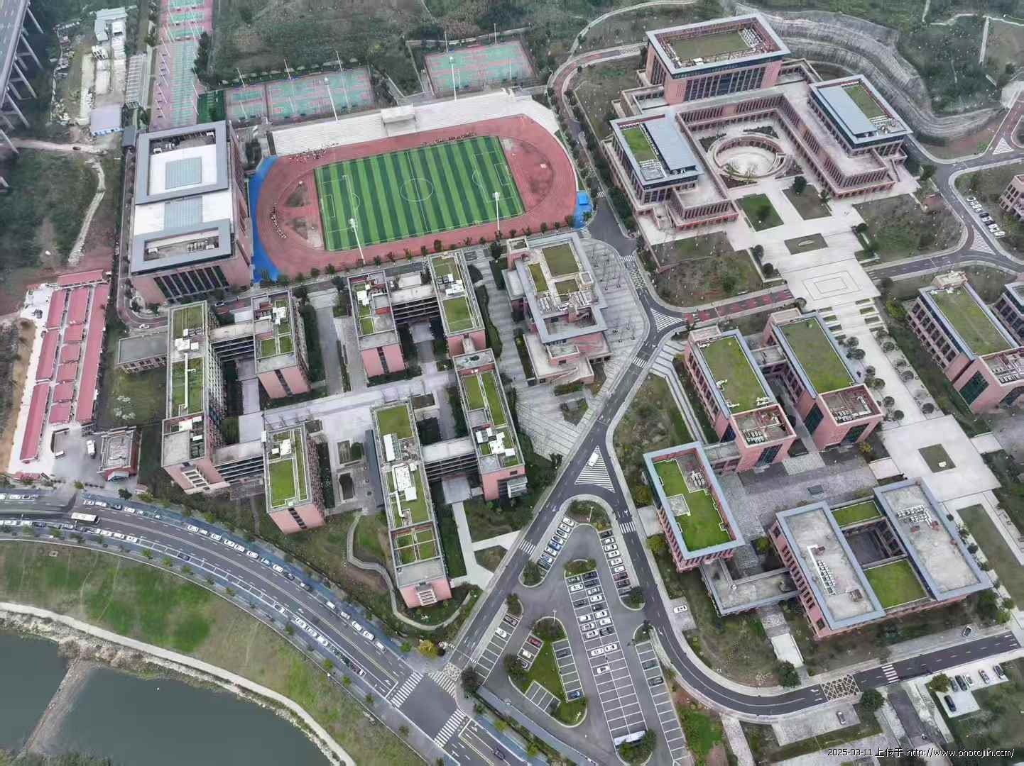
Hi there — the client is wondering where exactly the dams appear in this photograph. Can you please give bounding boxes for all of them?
[28,660,91,750]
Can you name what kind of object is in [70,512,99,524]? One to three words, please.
vehicle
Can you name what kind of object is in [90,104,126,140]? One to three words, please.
shed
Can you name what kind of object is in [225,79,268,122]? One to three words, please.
basketball court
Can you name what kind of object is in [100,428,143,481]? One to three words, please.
building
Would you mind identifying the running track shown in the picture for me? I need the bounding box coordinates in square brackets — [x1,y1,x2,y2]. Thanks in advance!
[257,114,578,278]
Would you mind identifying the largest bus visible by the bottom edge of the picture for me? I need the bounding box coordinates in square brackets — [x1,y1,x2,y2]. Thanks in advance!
[613,729,647,749]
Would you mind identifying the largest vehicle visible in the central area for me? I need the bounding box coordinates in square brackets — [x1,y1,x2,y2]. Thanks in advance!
[587,450,600,467]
